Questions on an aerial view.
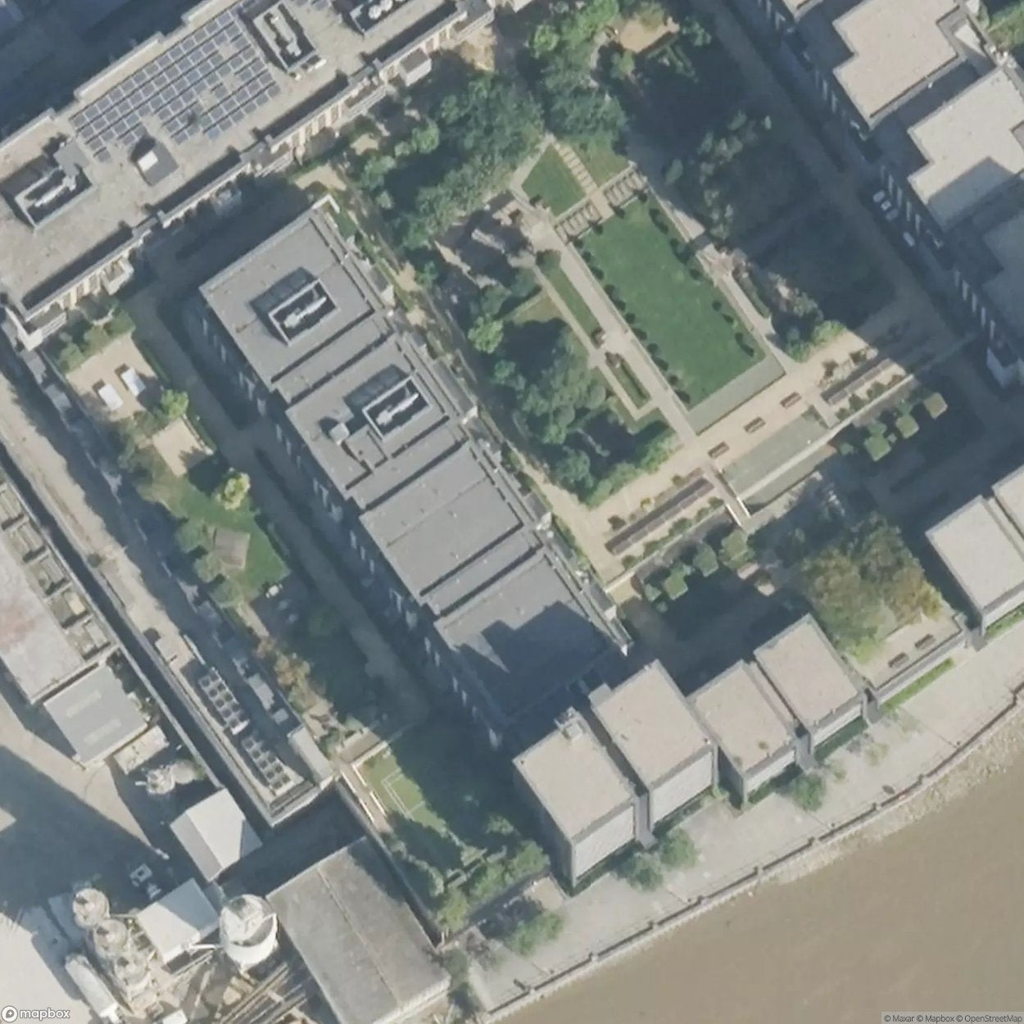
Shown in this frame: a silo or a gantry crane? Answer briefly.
silo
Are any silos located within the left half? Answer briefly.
Yes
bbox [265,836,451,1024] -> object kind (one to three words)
warehouse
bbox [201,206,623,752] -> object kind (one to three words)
building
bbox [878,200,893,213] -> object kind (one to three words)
vehicle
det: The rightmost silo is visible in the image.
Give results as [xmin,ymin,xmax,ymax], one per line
[219,892,278,992]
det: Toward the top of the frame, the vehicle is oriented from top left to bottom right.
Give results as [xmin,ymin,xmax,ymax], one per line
[901,231,916,247]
